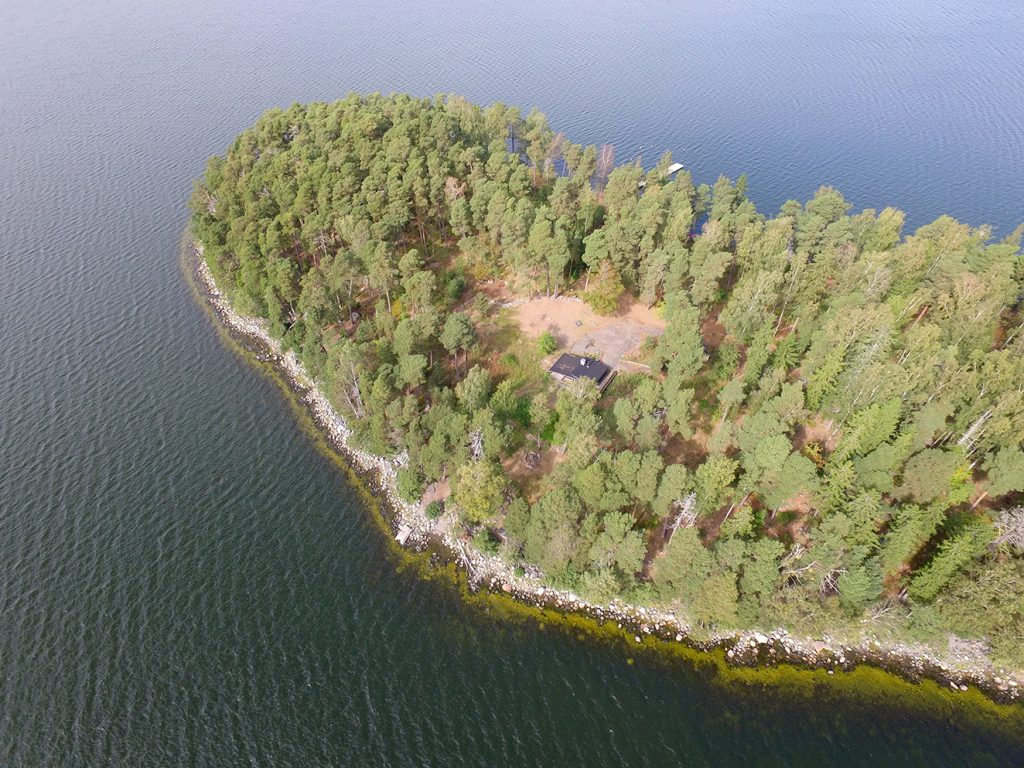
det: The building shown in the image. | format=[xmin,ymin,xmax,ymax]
[552,352,618,400]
